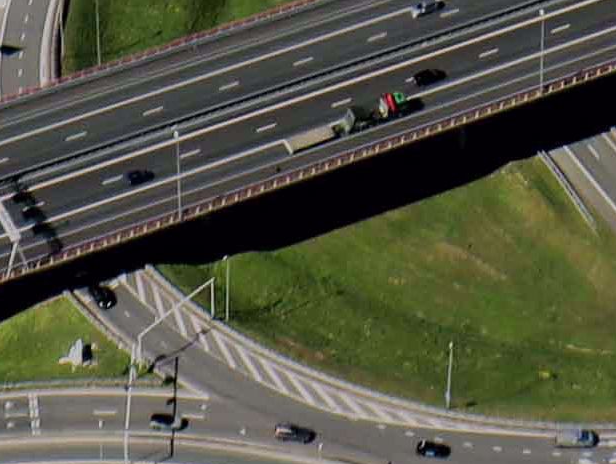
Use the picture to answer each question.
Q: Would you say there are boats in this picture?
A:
No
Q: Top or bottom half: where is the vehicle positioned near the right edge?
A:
bottom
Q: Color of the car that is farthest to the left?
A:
black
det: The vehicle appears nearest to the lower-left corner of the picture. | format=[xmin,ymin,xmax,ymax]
[149,415,180,431]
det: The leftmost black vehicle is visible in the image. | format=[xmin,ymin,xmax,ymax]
[88,285,114,309]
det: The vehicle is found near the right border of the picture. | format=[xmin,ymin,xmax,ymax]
[555,429,595,449]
